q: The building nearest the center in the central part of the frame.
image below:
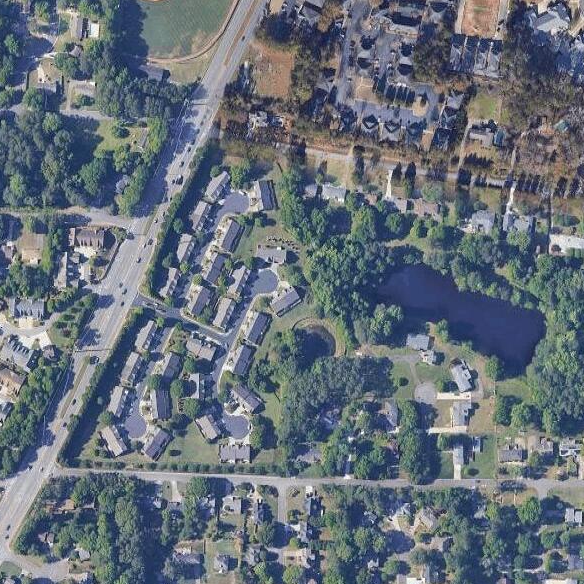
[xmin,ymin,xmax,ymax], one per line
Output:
[273,290,303,316]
